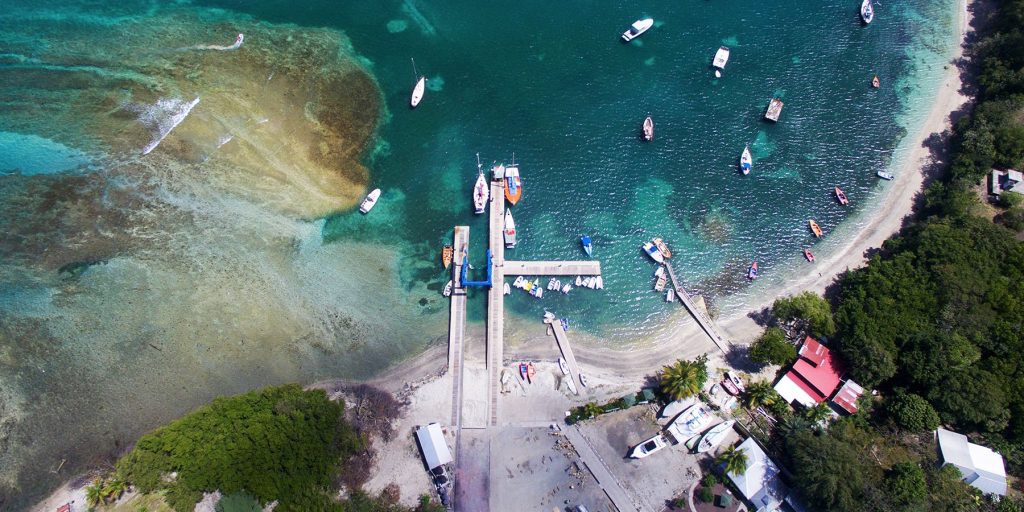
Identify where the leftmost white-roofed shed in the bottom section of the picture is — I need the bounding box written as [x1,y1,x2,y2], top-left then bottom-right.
[417,423,453,471]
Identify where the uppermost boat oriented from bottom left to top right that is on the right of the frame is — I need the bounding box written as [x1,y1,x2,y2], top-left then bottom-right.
[620,19,653,43]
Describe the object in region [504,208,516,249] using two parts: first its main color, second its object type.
white boat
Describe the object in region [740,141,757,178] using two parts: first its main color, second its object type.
white boat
